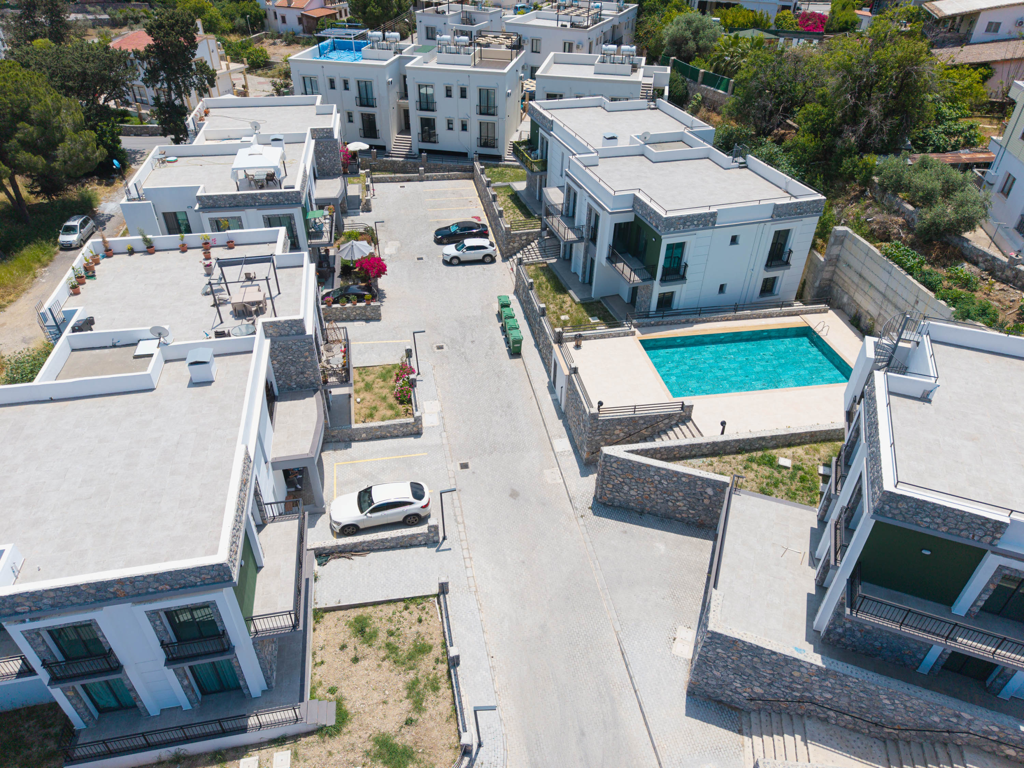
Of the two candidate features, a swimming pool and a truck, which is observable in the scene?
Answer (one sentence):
Of the two, only a swimming pool appears.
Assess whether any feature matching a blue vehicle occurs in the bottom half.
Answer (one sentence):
No, there's no blue vehicle to be seen in the bottom half.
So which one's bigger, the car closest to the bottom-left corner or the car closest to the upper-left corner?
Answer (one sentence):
The car closest to the bottom-left corner is larger than the car closest to the upper-left corner.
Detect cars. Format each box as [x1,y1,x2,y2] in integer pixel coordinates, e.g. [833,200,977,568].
[443,238,498,265]
[54,214,91,245]
[433,221,489,244]
[328,480,432,533]
[321,285,381,308]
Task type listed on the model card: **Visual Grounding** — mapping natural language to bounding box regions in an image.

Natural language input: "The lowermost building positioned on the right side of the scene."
[817,322,1024,696]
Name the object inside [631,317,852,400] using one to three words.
swimming pool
